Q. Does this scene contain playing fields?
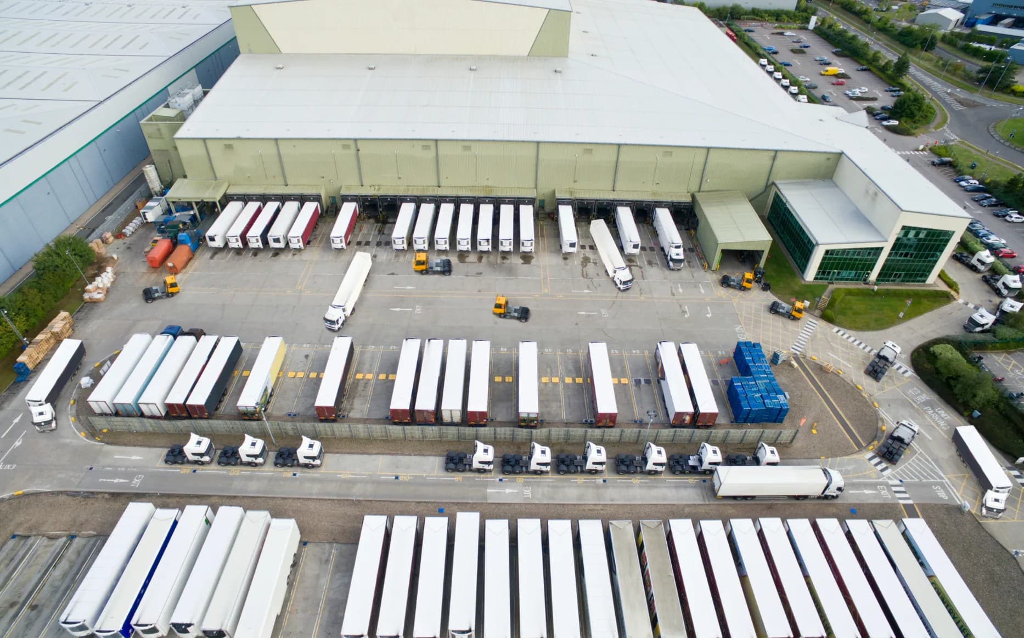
No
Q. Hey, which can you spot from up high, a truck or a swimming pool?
truck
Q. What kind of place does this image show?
industrial area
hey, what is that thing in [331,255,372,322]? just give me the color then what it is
white trailer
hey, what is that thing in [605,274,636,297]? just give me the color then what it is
white truck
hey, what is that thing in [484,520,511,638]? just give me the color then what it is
white trailer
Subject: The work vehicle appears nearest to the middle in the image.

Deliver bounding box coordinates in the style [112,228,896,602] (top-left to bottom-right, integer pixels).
[493,294,534,322]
